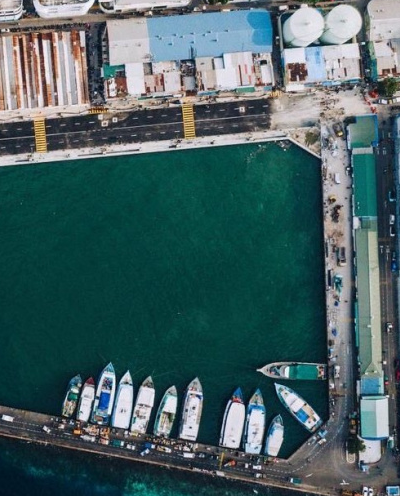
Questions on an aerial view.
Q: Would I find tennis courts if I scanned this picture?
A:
No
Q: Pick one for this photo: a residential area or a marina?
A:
marina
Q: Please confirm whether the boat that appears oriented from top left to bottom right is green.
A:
No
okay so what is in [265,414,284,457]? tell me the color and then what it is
white boat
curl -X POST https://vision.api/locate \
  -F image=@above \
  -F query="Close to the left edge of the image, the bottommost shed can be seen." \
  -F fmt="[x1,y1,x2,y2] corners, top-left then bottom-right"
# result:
[0,30,90,116]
